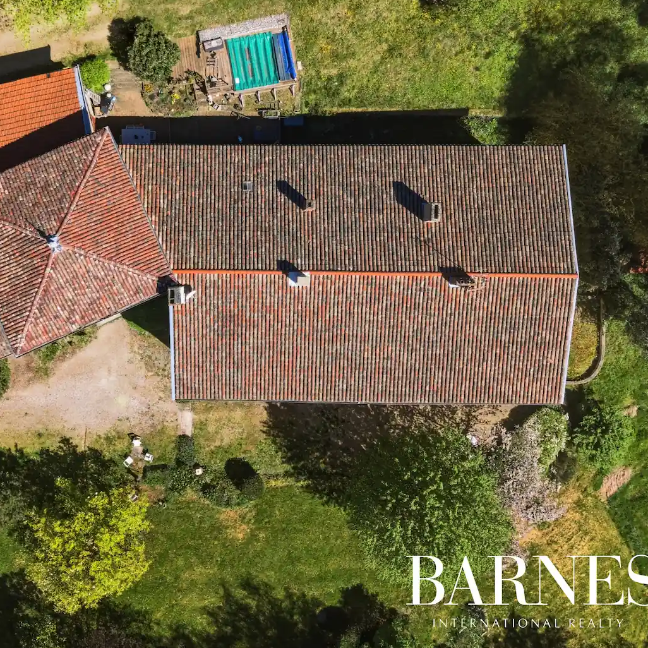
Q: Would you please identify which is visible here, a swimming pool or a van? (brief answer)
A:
swimming pool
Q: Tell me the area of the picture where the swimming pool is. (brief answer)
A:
top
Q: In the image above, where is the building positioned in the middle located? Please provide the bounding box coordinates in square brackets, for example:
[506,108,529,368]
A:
[116,143,580,405]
